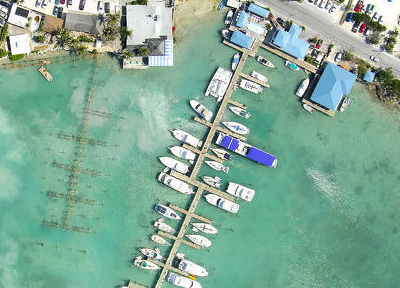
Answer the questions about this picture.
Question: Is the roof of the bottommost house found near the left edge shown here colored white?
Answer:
Yes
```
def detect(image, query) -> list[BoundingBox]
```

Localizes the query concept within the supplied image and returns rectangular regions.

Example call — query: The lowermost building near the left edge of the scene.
[9,34,31,56]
